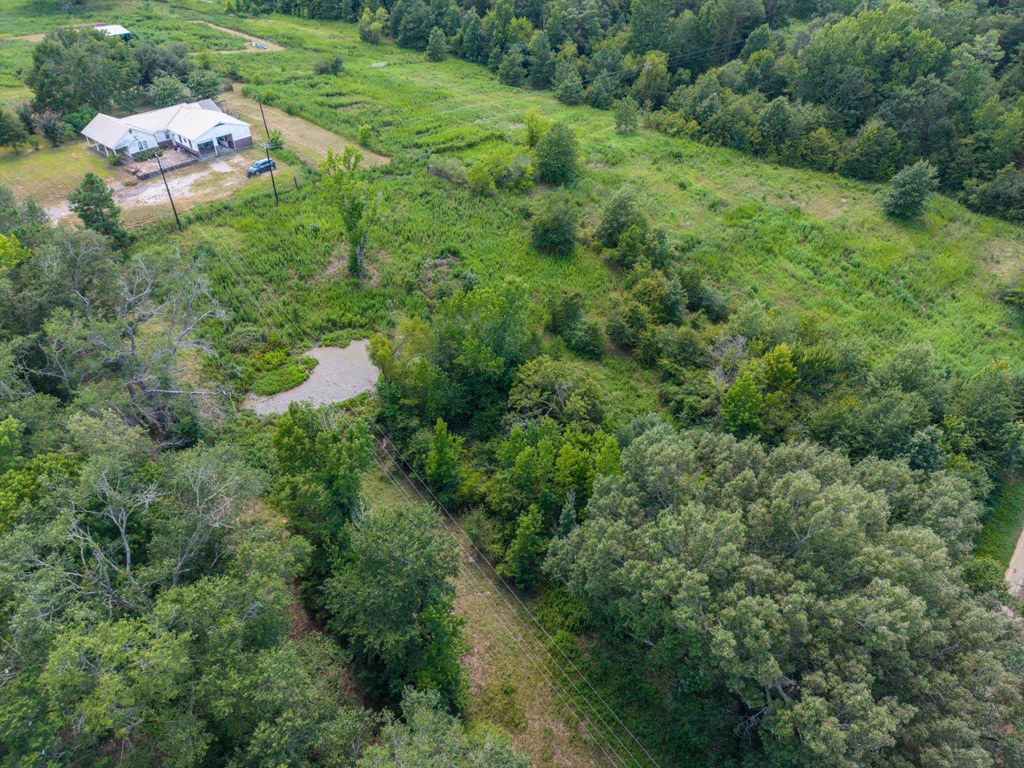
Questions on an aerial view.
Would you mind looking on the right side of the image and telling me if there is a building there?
No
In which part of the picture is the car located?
top left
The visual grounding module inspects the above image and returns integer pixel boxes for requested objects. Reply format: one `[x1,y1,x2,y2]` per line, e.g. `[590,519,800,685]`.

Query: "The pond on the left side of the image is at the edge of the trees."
[247,342,377,415]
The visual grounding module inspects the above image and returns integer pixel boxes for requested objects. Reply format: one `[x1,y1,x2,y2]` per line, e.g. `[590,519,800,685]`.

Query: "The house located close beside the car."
[80,96,254,166]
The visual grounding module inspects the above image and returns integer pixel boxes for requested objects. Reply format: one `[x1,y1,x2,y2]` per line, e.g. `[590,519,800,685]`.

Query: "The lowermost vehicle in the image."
[246,155,281,176]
